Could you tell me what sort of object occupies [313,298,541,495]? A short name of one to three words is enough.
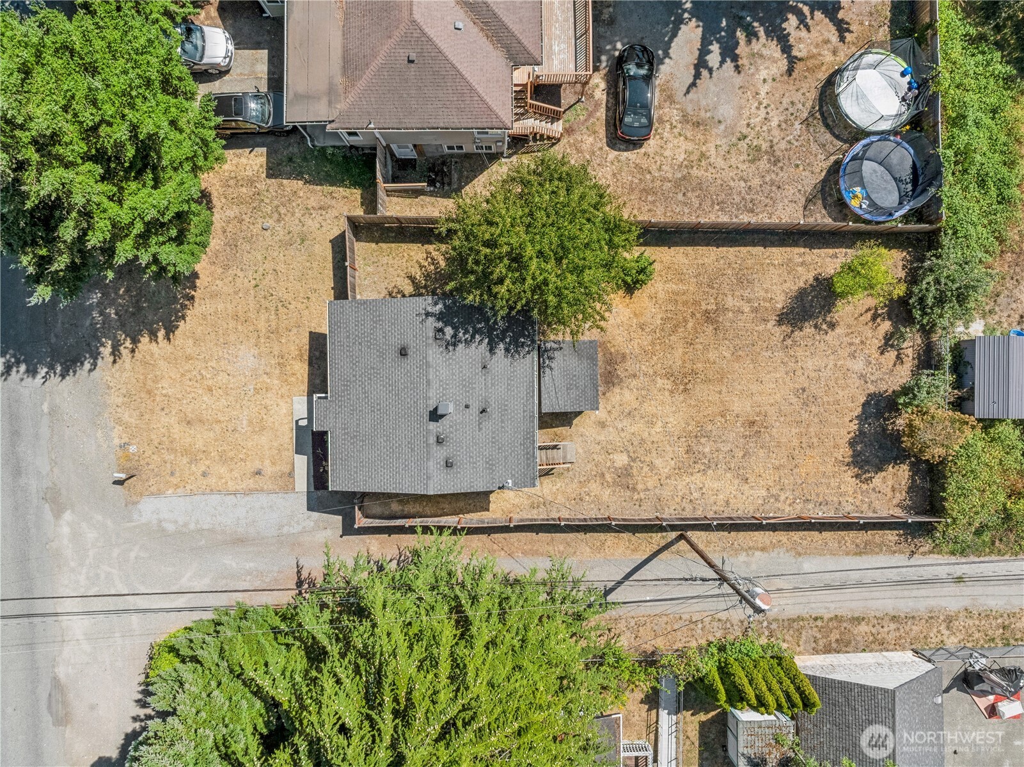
house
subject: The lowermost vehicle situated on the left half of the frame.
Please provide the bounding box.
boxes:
[204,87,301,140]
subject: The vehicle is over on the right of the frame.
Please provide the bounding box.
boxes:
[612,51,660,151]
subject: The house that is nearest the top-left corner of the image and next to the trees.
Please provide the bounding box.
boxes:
[259,0,545,165]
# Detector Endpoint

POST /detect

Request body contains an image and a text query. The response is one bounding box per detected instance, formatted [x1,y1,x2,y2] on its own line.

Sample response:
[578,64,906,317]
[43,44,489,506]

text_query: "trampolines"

[826,31,944,134]
[834,122,945,222]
